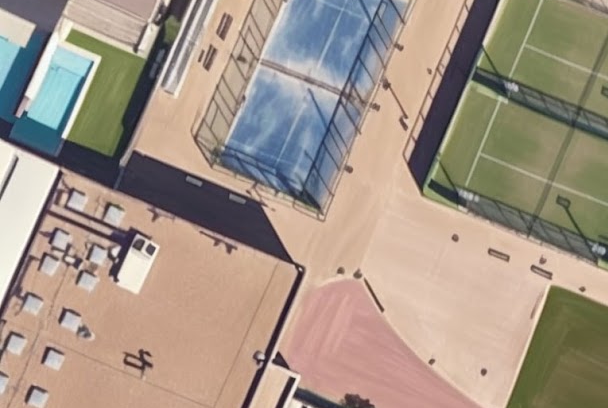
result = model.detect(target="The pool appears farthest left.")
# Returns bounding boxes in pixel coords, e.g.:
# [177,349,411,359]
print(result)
[0,29,47,124]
